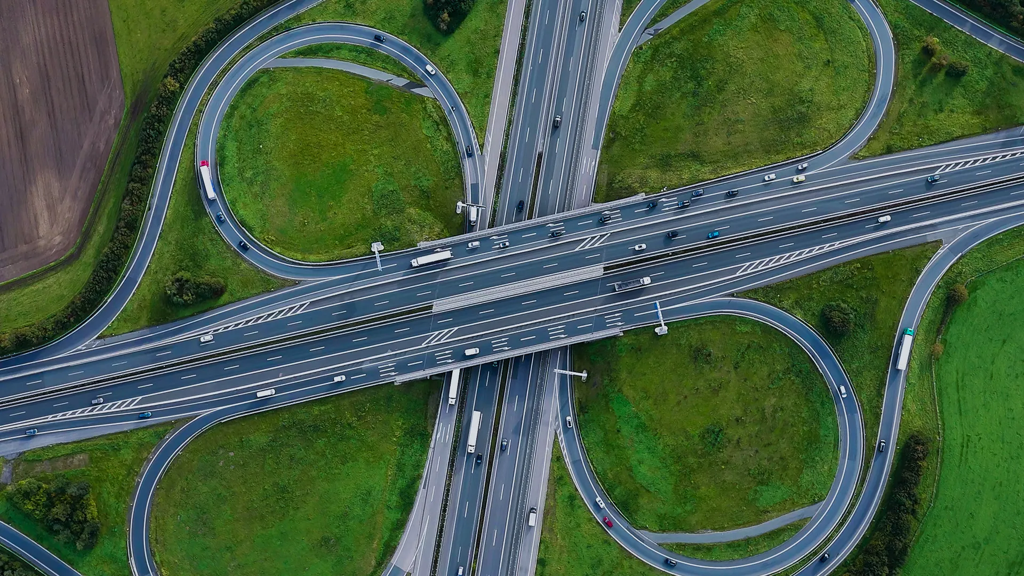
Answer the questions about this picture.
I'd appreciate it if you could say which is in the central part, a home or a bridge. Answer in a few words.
bridge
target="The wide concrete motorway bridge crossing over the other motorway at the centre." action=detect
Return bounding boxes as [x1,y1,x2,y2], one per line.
[395,194,648,387]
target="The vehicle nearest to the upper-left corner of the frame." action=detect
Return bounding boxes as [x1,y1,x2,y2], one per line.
[200,162,217,202]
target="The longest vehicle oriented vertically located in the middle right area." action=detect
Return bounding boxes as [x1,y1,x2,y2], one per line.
[895,328,913,370]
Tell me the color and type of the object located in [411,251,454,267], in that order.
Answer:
white vehicle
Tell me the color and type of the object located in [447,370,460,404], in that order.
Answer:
white vehicle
